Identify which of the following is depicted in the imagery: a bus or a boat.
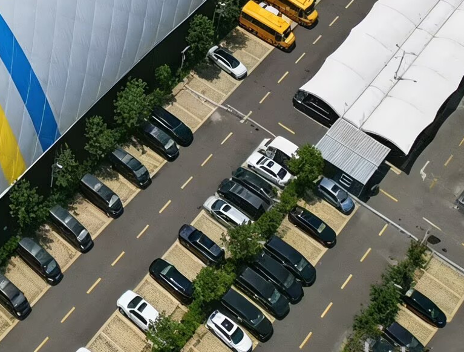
bus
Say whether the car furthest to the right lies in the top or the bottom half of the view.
bottom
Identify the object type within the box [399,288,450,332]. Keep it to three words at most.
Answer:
car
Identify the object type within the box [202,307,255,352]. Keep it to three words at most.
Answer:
car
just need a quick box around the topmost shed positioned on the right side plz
[316,117,391,196]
